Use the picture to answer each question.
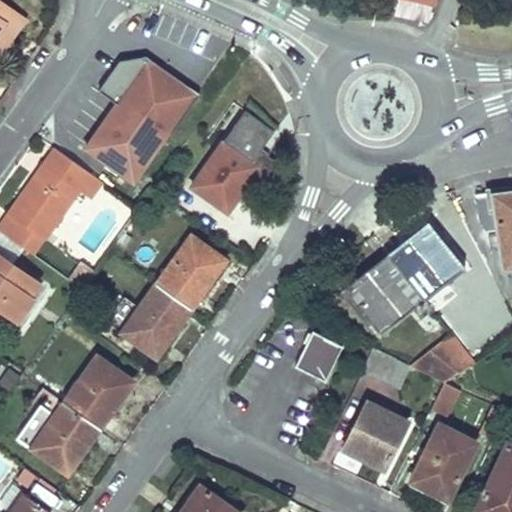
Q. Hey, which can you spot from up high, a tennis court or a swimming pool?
swimming pool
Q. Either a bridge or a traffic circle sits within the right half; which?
traffic circle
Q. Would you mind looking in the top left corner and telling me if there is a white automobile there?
Yes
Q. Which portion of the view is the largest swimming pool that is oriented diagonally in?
left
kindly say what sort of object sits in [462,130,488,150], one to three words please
vehicle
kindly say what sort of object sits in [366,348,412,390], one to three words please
building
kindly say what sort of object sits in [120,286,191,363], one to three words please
house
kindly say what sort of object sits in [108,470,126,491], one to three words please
car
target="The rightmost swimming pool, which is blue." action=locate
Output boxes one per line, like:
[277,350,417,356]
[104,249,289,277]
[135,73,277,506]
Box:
[136,244,156,264]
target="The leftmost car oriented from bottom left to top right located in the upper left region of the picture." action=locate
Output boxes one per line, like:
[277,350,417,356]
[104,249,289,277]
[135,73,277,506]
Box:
[31,48,50,68]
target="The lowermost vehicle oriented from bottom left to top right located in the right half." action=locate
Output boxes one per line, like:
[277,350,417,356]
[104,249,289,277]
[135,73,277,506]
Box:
[334,421,350,442]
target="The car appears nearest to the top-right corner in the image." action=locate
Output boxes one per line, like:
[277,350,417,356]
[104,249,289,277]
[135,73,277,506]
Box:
[416,54,438,66]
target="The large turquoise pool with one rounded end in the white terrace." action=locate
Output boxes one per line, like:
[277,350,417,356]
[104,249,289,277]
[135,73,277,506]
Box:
[77,207,118,254]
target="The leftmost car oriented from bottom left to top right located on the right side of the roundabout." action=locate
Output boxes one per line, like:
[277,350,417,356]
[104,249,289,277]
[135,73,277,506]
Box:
[442,119,463,136]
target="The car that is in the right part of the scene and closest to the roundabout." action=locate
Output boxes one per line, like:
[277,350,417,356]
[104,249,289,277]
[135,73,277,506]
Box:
[350,54,372,68]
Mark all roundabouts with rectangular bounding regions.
[337,63,422,148]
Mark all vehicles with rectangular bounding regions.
[178,188,196,206]
[284,322,296,344]
[194,30,209,53]
[272,478,296,496]
[264,342,284,359]
[124,14,142,34]
[462,130,488,150]
[230,392,250,410]
[334,421,350,442]
[416,54,438,66]
[344,398,358,420]
[238,16,264,34]
[286,46,306,64]
[142,12,159,34]
[292,396,314,411]
[253,352,276,370]
[288,408,308,424]
[448,191,464,218]
[108,470,126,491]
[282,420,304,436]
[442,119,463,136]
[197,212,218,230]
[31,48,50,68]
[266,32,287,49]
[94,48,114,69]
[278,432,300,448]
[94,490,113,510]
[259,288,276,309]
[350,54,372,68]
